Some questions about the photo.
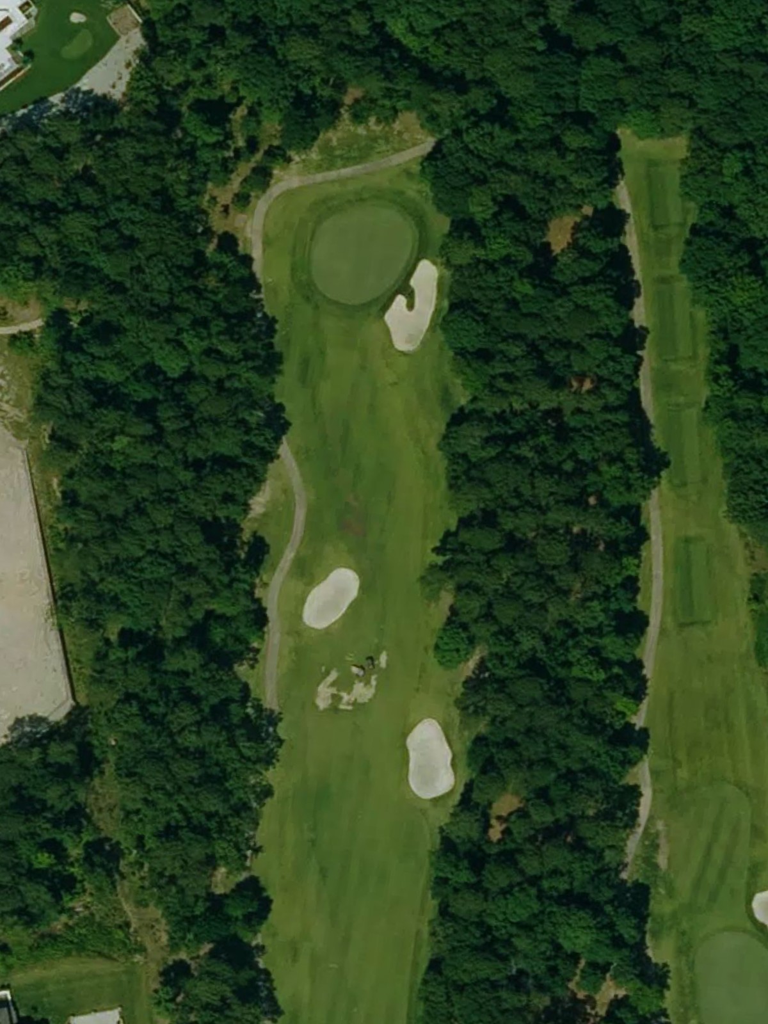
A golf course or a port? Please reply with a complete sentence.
The area seen from above is a golf course.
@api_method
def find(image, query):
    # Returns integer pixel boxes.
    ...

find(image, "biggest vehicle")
[350,665,365,677]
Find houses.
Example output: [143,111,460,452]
[0,988,17,1024]
[69,1008,122,1024]
[0,0,37,90]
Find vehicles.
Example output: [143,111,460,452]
[366,656,374,668]
[350,665,365,677]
